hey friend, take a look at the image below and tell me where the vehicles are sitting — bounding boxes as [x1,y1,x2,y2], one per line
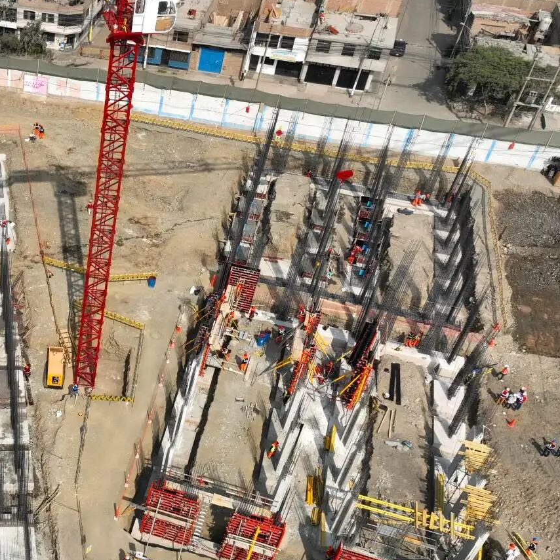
[389,40,410,56]
[527,158,560,190]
